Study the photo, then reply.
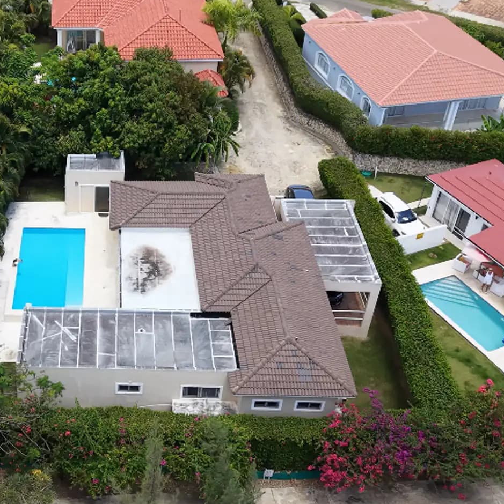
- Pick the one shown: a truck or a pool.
pool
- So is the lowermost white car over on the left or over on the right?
right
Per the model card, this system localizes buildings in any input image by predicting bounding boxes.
[51,0,224,73]
[18,152,381,425]
[426,159,504,275]
[302,7,504,130]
